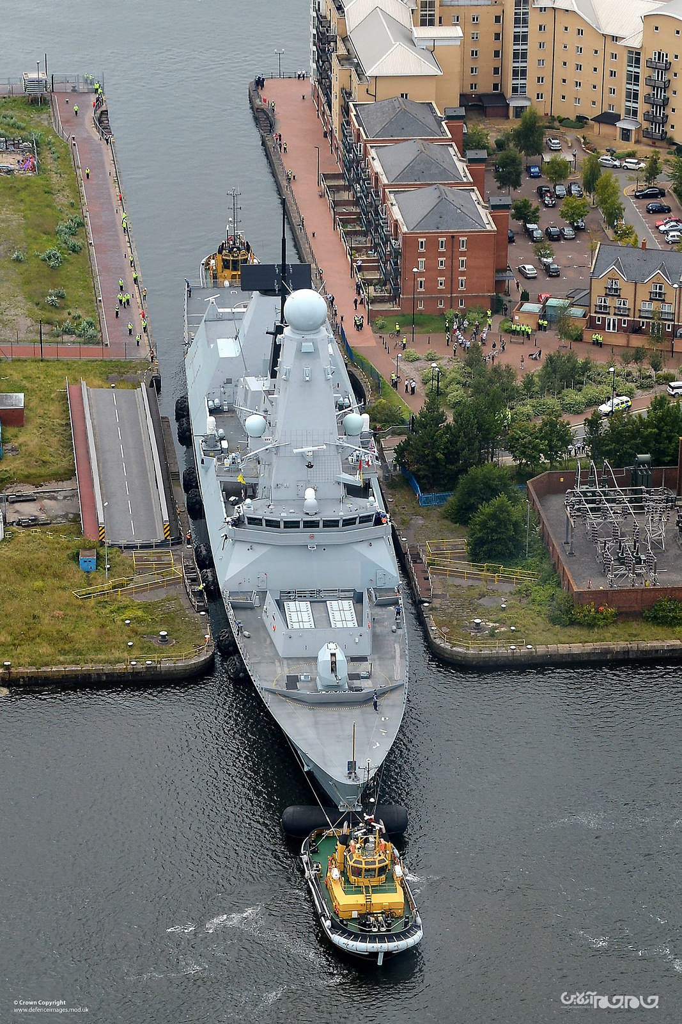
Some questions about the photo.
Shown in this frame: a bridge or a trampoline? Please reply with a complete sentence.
The image shows a bridge.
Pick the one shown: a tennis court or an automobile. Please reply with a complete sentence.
The image shows an automobile.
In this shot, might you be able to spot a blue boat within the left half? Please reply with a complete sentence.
No, I see no blue boat within the left half.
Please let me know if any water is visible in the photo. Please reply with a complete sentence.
Yes, water can be seen from above here.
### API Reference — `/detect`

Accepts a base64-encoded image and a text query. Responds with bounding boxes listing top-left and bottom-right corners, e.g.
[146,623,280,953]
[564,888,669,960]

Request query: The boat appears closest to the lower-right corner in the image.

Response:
[299,769,425,979]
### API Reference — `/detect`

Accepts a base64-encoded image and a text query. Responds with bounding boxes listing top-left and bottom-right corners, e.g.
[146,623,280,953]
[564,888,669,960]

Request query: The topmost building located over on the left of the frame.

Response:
[21,69,50,101]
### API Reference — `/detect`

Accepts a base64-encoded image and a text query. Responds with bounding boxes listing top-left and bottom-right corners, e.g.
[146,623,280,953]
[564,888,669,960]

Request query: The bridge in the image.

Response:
[67,376,184,559]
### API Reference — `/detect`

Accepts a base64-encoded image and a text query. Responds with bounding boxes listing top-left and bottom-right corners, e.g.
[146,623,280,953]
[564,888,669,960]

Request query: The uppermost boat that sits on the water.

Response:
[199,167,271,288]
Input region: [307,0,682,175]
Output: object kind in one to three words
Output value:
building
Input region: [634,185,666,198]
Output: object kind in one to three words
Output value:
vehicle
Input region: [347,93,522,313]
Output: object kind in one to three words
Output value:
building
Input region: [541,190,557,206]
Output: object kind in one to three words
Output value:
car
